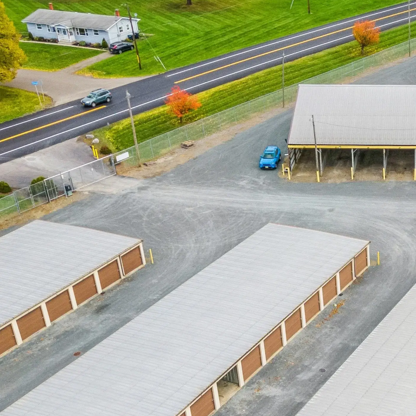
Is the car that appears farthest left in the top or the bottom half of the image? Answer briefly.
top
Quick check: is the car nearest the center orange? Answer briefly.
No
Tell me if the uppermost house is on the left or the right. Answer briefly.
left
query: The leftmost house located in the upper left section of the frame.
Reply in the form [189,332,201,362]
[22,0,144,43]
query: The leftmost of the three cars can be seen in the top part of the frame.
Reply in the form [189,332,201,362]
[79,87,113,106]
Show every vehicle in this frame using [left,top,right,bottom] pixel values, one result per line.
[108,40,134,53]
[259,145,282,168]
[79,87,113,106]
